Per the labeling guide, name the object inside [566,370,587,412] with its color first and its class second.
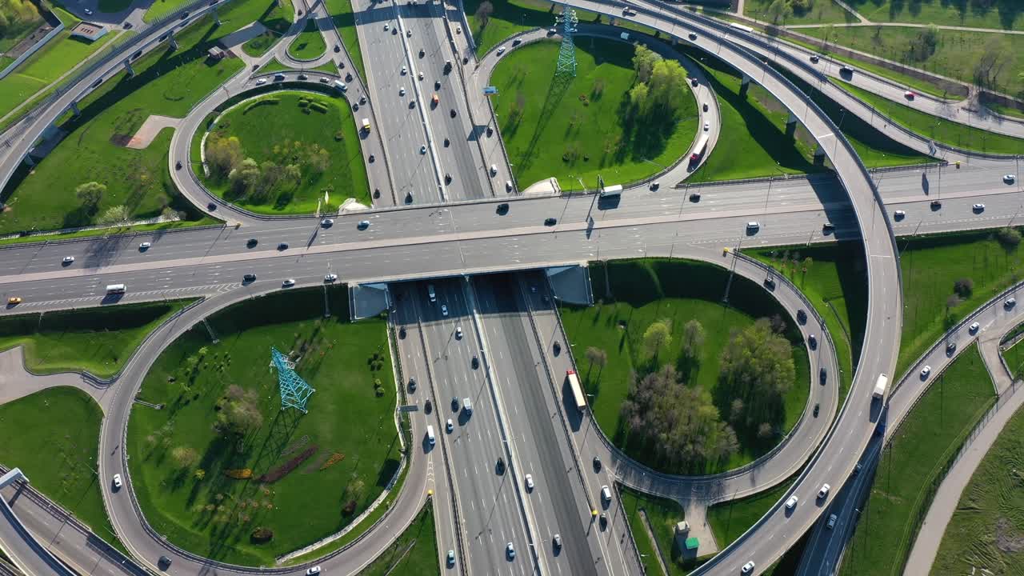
white truck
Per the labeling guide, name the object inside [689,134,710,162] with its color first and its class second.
white truck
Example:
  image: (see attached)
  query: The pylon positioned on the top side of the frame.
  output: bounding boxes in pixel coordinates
[555,6,581,77]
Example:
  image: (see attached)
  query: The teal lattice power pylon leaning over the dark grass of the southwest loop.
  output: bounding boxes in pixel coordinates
[269,345,317,416]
